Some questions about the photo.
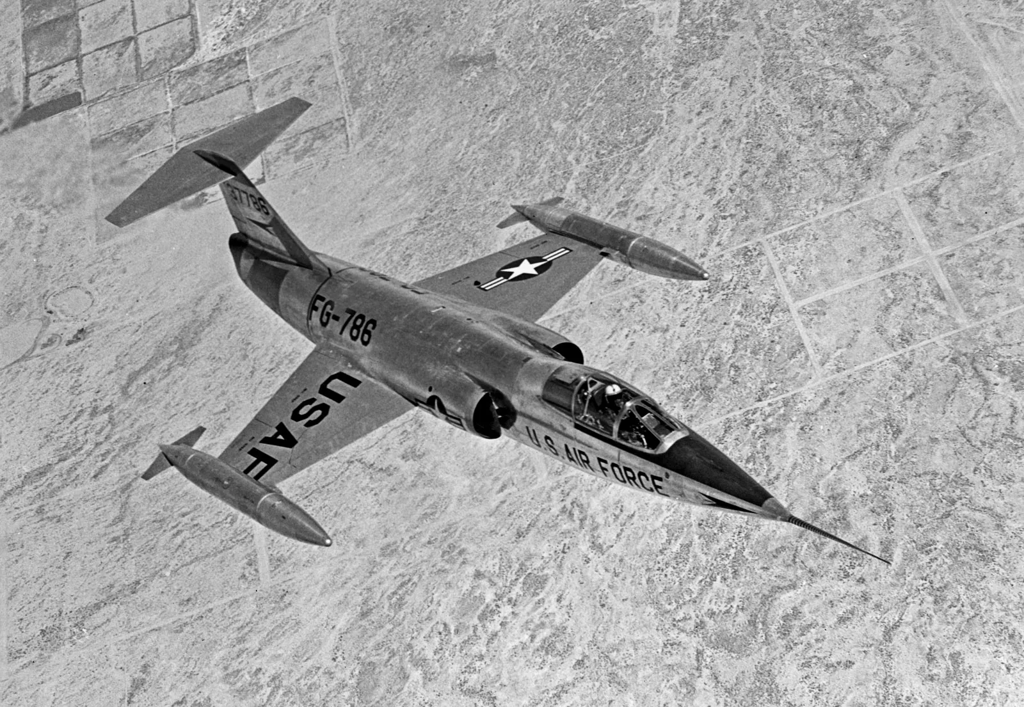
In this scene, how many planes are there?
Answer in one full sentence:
The picture shows 1 plane.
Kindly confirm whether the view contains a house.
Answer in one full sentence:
No, the frame has no house in it.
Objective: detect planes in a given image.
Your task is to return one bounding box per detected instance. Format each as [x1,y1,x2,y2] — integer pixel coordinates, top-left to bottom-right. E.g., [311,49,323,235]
[106,99,891,565]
